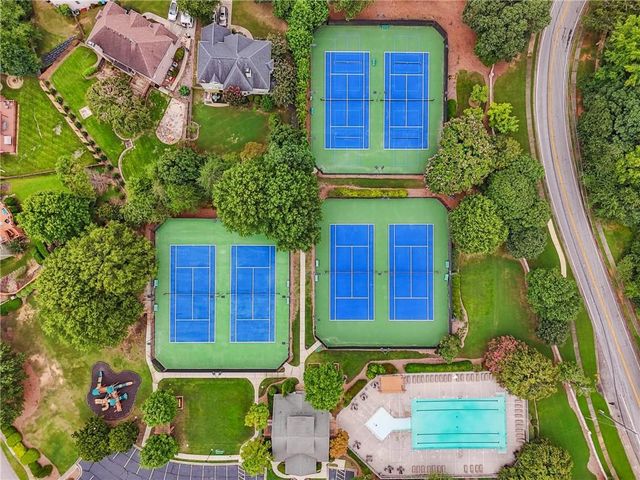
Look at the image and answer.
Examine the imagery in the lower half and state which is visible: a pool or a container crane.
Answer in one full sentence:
Visible in the lower half is a pool.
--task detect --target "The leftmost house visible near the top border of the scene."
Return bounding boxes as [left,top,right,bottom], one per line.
[86,0,182,82]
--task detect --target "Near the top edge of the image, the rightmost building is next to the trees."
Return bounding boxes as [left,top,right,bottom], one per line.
[198,22,274,94]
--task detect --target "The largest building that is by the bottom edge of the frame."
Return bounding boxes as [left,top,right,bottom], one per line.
[271,393,331,476]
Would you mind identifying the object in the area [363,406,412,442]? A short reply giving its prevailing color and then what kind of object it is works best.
white swimming pool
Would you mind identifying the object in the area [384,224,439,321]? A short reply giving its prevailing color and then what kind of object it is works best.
blue tennis court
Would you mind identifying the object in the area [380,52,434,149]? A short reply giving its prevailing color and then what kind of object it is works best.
blue tennis court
